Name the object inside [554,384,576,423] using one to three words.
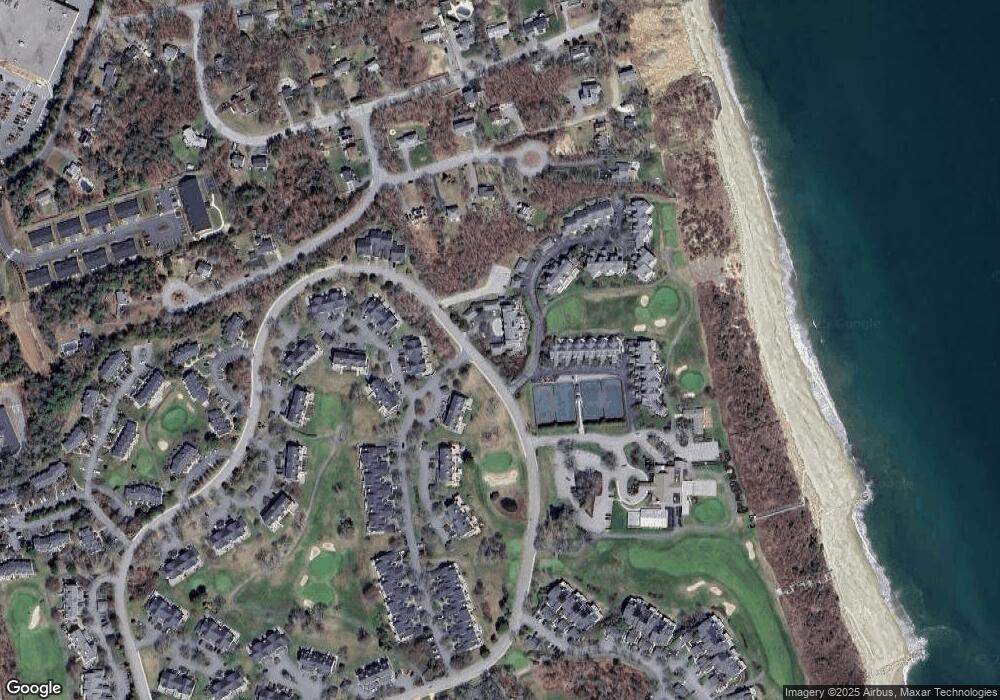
tennis court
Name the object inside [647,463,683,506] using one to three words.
building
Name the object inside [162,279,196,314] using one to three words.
roundabout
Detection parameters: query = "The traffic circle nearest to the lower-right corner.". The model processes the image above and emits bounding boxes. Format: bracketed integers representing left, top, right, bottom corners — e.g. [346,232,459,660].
[616,469,649,503]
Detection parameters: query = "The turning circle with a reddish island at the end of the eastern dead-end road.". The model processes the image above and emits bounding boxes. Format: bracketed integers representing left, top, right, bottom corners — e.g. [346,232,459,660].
[514,140,549,175]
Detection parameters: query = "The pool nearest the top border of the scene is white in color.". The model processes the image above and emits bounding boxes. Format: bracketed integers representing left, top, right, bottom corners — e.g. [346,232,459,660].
[452,2,475,19]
